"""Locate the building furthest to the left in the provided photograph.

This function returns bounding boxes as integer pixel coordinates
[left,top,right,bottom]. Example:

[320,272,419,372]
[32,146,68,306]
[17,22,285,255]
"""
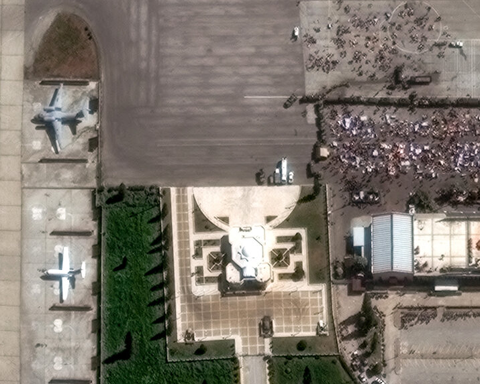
[221,226,270,298]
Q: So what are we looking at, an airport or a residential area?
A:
airport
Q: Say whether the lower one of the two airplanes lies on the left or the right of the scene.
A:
left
